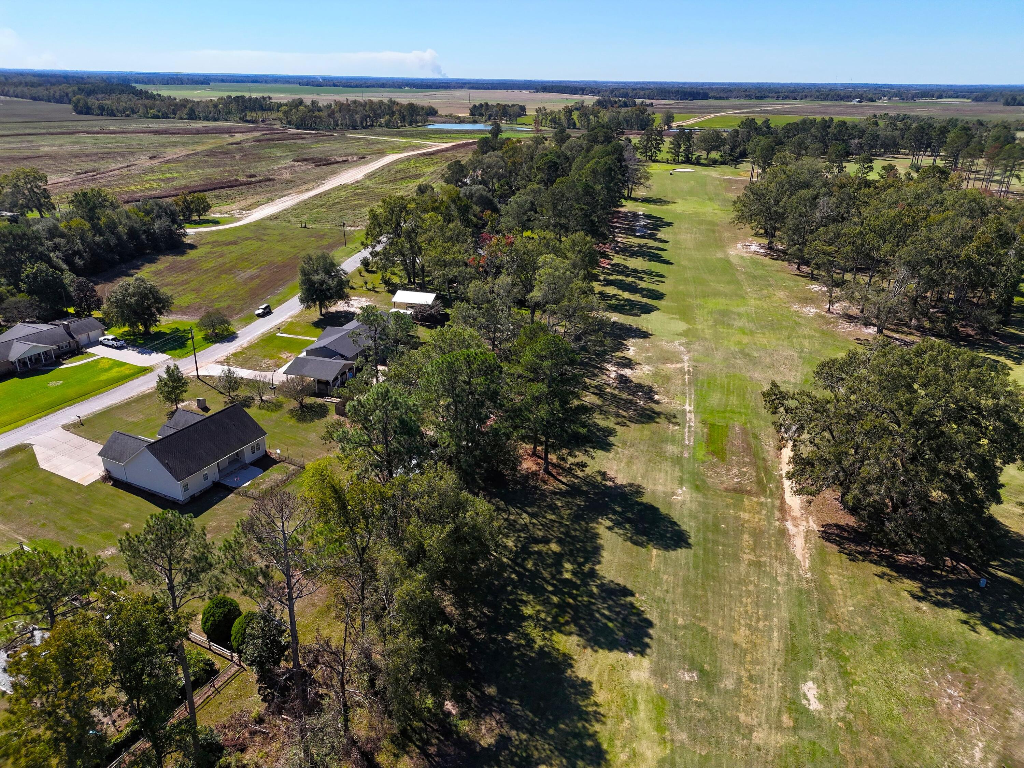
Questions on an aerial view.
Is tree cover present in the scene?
Yes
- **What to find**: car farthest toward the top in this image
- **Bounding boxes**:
[254,303,273,316]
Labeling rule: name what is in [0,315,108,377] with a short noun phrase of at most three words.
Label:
house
